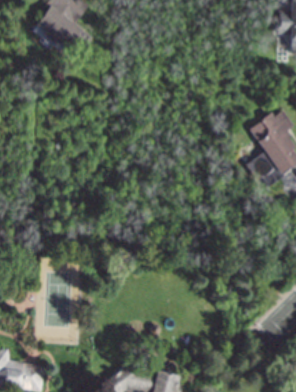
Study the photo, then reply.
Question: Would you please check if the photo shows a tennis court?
Yes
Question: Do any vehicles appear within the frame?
No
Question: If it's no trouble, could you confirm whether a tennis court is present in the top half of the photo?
No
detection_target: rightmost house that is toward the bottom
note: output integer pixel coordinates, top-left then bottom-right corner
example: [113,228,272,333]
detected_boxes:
[152,370,182,392]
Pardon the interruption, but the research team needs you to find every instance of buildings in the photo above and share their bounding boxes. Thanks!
[36,0,96,55]
[250,110,296,182]
[0,344,44,392]
[152,370,182,392]
[273,0,296,50]
[114,371,152,392]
